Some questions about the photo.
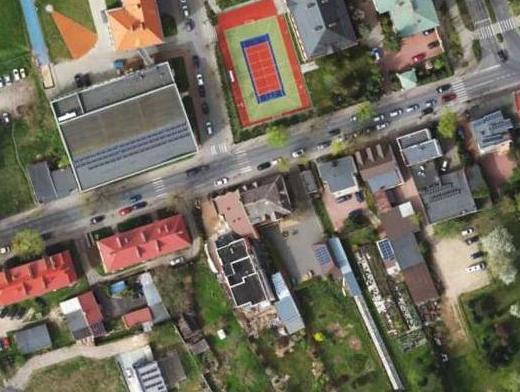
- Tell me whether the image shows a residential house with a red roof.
Yes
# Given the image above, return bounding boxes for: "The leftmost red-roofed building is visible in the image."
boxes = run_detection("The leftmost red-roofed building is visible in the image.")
[0,251,78,306]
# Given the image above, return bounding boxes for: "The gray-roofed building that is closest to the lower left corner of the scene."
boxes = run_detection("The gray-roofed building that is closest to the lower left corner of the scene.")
[15,324,51,353]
